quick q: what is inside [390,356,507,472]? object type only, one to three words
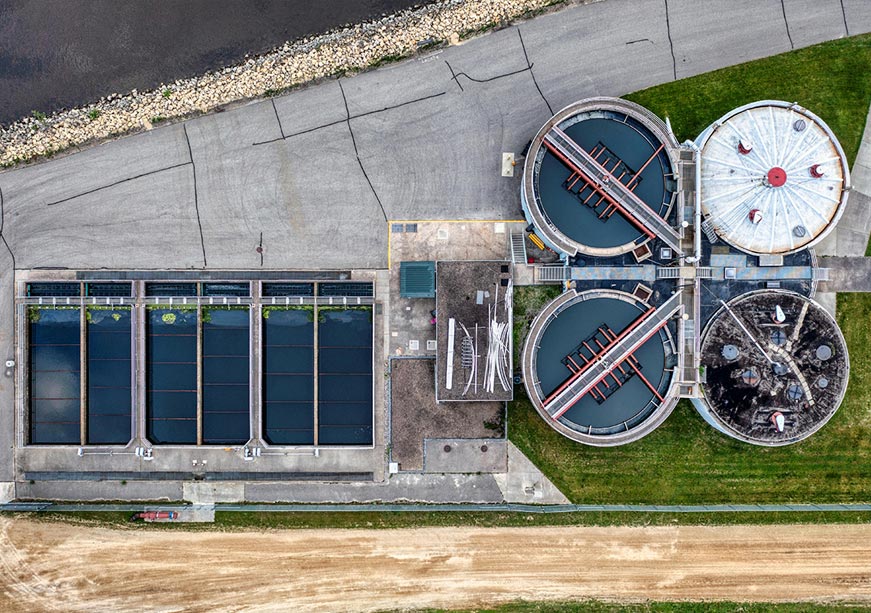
building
